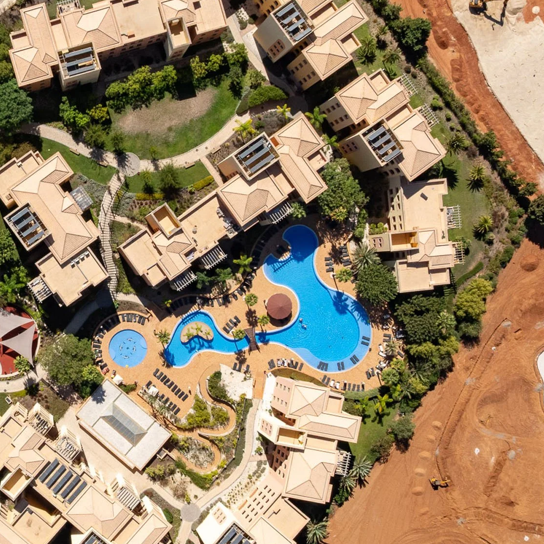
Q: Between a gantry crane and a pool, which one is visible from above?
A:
pool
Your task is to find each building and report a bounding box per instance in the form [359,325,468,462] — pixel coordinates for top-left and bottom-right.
[76,378,172,470]
[257,0,368,87]
[260,381,362,504]
[0,151,108,306]
[372,178,467,292]
[324,69,447,184]
[10,0,227,93]
[0,400,172,544]
[115,114,330,291]
[198,486,310,544]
